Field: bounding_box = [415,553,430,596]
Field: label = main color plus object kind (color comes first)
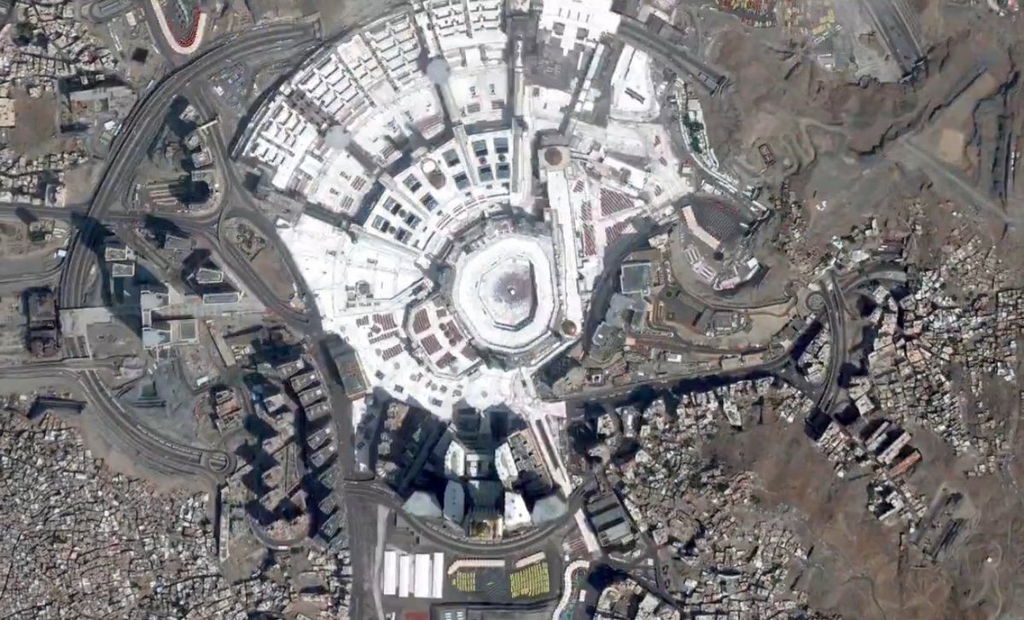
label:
white tent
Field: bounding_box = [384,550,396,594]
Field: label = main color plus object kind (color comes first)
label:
white tent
